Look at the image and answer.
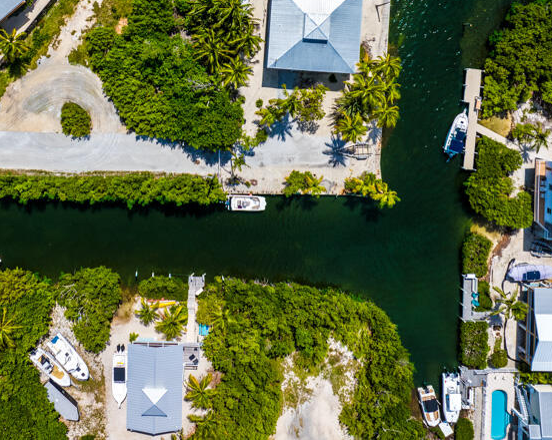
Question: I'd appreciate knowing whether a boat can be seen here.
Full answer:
Yes, there's a boat here.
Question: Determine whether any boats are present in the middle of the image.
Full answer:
Yes, a boat shows up in the middle of the image.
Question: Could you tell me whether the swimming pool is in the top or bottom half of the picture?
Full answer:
The swimming pool sits in the bottom half of the picture.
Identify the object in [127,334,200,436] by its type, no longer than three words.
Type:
house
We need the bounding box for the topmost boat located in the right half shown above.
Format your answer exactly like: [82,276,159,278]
[441,110,468,158]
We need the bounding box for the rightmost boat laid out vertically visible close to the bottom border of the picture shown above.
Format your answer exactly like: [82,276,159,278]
[441,369,462,423]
